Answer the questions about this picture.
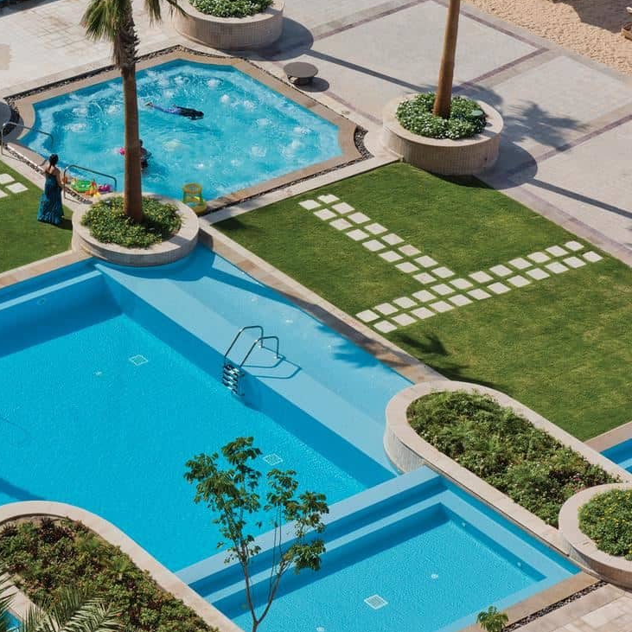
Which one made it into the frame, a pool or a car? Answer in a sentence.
The image shows a pool.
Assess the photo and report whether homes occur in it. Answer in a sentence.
No, there is no home in the image.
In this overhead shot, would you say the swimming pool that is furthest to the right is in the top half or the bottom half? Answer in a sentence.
The swimming pool that is furthest to the right sits in the bottom half of the picture.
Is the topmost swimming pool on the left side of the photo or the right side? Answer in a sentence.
The topmost swimming pool appears in the left half of the scene.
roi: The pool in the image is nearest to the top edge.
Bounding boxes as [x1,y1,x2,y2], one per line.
[21,64,339,203]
